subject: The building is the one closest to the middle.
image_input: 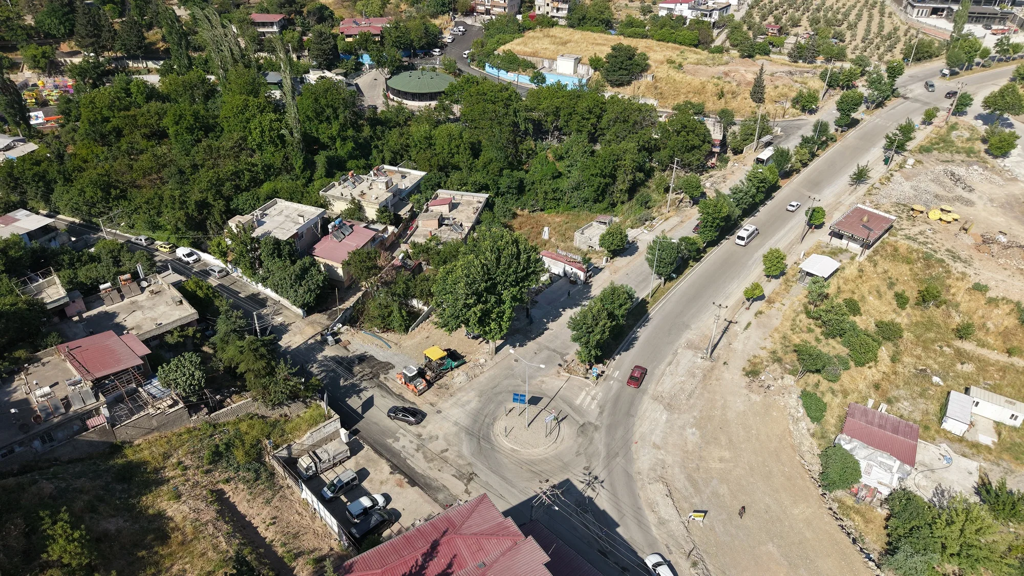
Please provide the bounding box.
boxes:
[540,249,588,289]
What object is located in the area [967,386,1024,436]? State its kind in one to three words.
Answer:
building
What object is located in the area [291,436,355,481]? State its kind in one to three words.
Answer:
truck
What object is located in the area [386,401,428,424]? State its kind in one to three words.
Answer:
car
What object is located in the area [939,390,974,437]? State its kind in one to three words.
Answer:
shed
